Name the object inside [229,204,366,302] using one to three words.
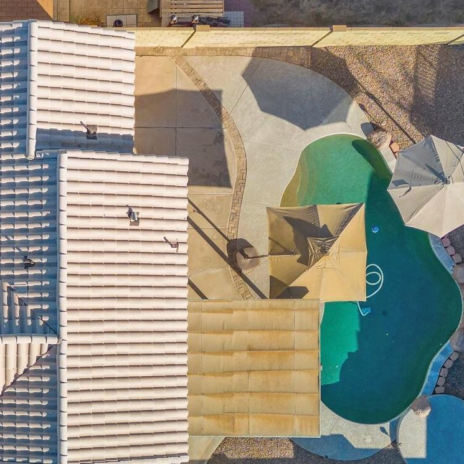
umbrella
